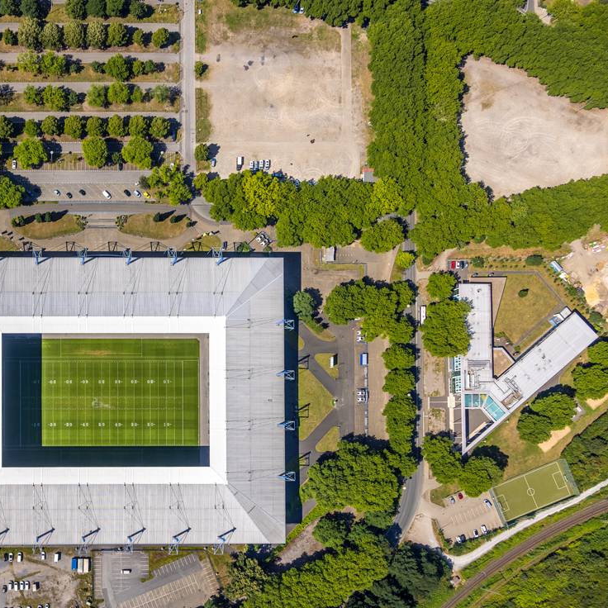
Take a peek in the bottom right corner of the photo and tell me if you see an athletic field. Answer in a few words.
Yes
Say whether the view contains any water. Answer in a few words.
No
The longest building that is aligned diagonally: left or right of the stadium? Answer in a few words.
on the right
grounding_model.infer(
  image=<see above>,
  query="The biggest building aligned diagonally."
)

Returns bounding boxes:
[485,310,598,414]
